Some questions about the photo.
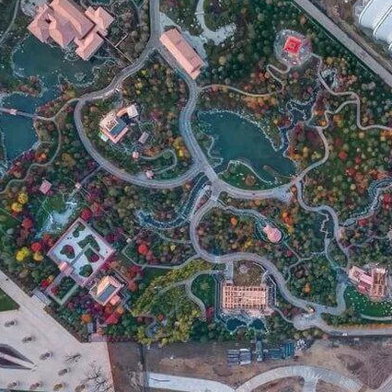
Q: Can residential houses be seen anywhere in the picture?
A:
Yes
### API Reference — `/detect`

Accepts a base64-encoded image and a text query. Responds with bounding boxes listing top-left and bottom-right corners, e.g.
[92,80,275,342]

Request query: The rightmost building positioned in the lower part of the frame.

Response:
[347,263,384,295]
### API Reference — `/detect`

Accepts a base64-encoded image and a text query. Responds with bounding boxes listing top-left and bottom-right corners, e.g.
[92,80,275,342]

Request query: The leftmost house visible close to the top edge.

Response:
[26,0,117,61]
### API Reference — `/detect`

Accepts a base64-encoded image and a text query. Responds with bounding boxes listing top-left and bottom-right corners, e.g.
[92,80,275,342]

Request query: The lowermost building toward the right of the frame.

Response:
[222,283,269,309]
